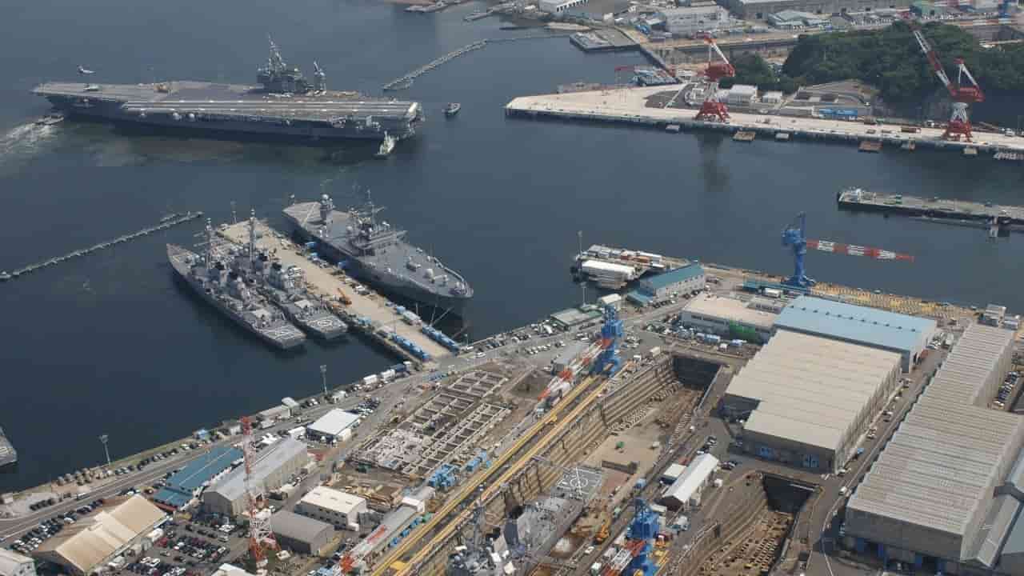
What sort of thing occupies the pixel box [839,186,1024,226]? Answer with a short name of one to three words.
pier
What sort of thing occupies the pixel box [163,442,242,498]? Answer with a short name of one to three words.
shed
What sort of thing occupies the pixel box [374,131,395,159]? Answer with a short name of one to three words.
boat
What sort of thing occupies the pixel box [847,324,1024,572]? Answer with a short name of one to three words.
building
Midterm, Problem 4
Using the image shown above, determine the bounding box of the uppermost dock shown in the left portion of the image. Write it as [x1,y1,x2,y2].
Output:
[217,218,462,368]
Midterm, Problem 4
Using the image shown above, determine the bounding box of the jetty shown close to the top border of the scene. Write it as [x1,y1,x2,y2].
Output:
[570,28,639,53]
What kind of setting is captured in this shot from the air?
port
